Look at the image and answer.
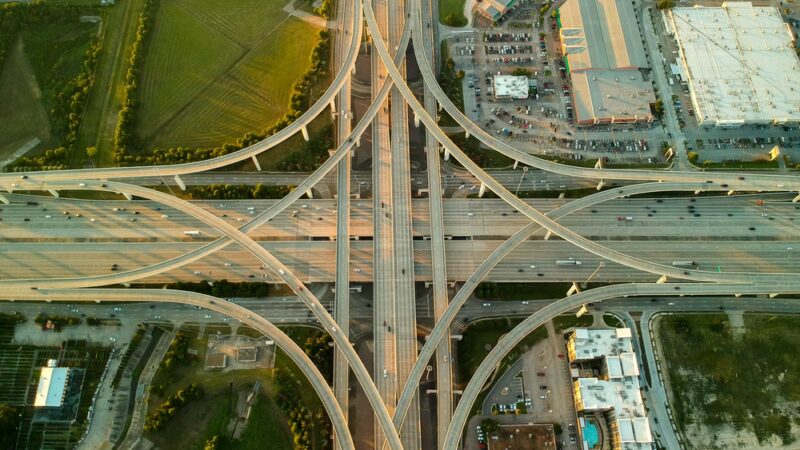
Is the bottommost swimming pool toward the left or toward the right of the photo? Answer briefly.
right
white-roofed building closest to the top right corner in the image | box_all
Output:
[659,2,800,133]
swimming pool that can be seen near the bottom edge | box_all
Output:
[576,413,612,450]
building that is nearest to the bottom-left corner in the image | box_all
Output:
[34,366,74,408]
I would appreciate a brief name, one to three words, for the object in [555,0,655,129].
building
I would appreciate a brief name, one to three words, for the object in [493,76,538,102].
building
